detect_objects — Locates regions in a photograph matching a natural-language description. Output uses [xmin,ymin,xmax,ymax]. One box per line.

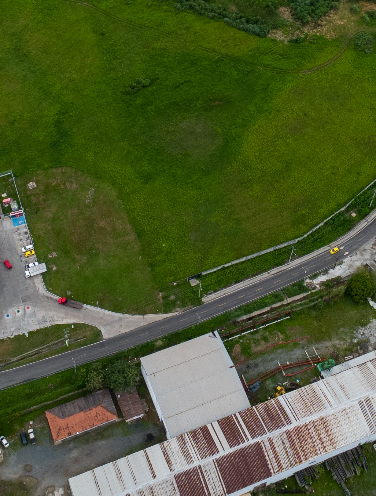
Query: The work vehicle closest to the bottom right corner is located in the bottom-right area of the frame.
[273,376,288,397]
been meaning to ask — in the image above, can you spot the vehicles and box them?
[25,261,47,274]
[24,260,37,271]
[58,293,82,310]
[273,376,288,397]
[20,244,33,253]
[20,430,27,446]
[0,434,11,450]
[4,259,12,271]
[24,250,35,256]
[329,247,340,254]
